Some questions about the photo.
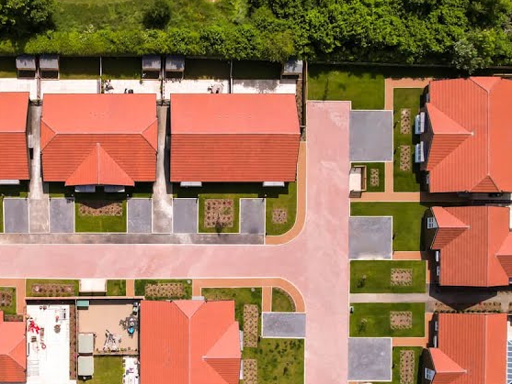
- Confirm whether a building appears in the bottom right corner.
Yes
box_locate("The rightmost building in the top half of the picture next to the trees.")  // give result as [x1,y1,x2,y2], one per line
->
[414,77,512,193]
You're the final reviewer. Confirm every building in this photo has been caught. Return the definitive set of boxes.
[425,205,512,285]
[0,92,31,183]
[15,55,37,73]
[281,61,303,78]
[0,311,29,383]
[351,164,370,191]
[414,77,512,193]
[39,55,60,73]
[422,313,507,384]
[78,355,94,376]
[142,55,162,73]
[170,92,302,186]
[140,297,246,384]
[165,55,185,73]
[78,332,94,353]
[40,93,157,193]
